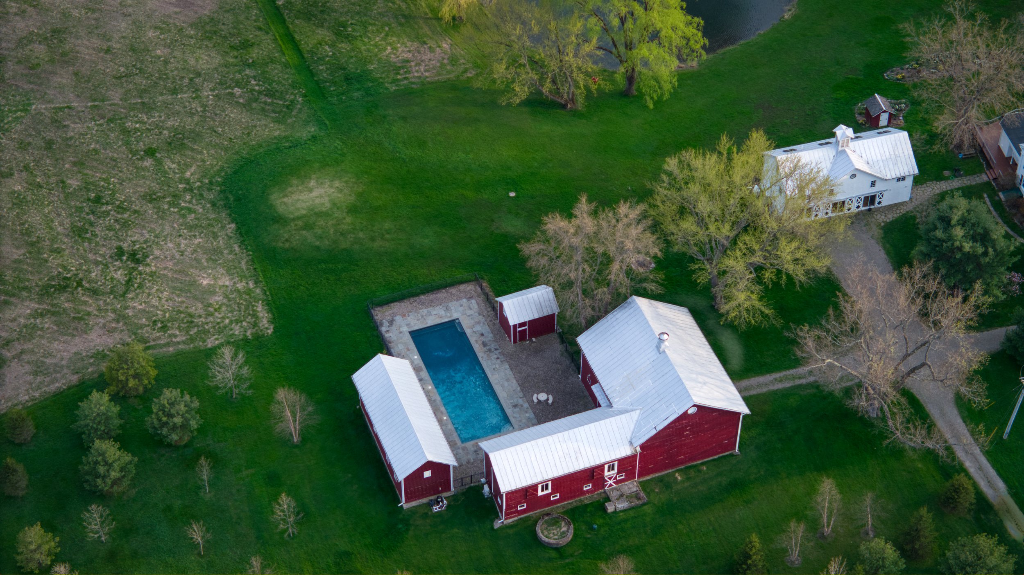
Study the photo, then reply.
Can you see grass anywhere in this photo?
Yes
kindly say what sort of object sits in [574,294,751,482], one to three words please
barn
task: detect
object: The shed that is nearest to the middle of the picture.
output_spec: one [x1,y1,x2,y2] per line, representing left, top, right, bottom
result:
[496,286,560,346]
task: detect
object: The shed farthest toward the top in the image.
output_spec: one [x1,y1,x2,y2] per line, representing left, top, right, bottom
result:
[865,90,896,126]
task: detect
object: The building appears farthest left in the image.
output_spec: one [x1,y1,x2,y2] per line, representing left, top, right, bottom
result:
[351,353,459,514]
